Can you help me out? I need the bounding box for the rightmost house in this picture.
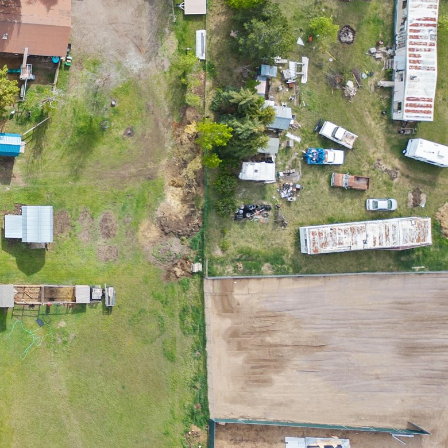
[370,0,438,136]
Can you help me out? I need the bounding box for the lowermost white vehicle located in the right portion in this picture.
[364,196,397,213]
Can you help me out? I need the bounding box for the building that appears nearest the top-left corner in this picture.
[0,0,71,59]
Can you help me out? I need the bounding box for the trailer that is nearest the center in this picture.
[233,164,273,183]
